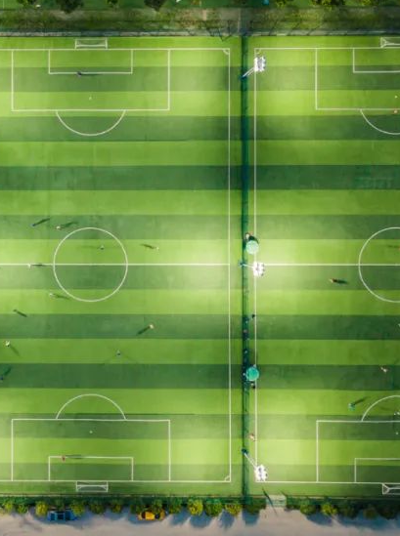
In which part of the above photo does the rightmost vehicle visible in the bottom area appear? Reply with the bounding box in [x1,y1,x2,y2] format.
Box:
[137,507,165,524]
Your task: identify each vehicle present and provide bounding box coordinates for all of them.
[46,508,78,525]
[137,507,165,524]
